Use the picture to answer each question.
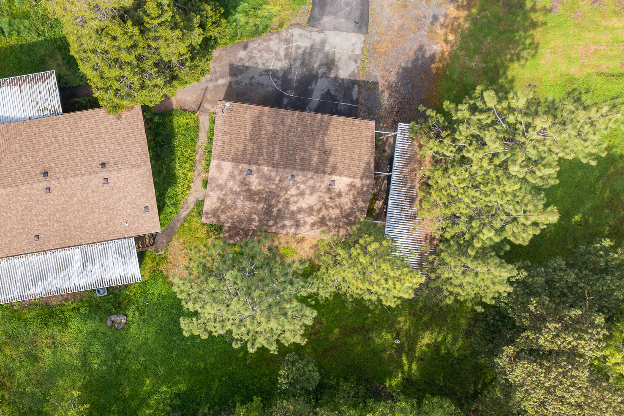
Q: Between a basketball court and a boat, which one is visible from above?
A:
basketball court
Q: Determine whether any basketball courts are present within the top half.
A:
Yes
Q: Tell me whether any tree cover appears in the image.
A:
Yes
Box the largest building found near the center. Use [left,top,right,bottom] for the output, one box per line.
[201,99,377,249]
